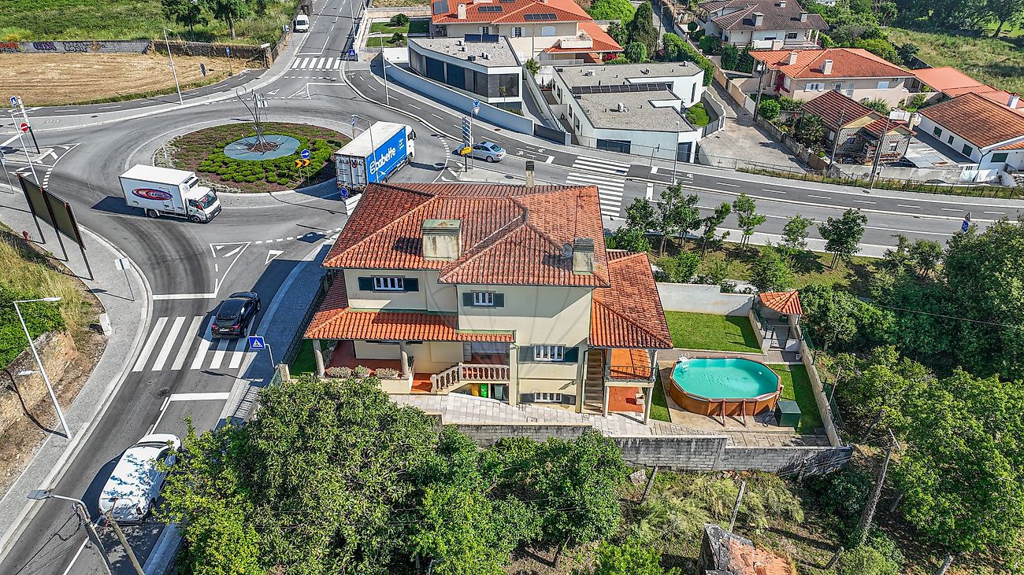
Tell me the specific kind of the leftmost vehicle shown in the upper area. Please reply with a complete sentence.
The leftmost vehicle shown in the upper area can be classified as a truck.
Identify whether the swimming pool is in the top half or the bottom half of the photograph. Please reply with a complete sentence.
The swimming pool is in the bottom half of the image.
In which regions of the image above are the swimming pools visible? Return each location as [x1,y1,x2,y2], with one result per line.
[668,356,782,423]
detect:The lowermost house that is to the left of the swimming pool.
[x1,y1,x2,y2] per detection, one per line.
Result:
[303,162,671,418]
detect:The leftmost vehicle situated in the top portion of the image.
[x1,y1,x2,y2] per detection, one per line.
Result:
[117,159,220,222]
